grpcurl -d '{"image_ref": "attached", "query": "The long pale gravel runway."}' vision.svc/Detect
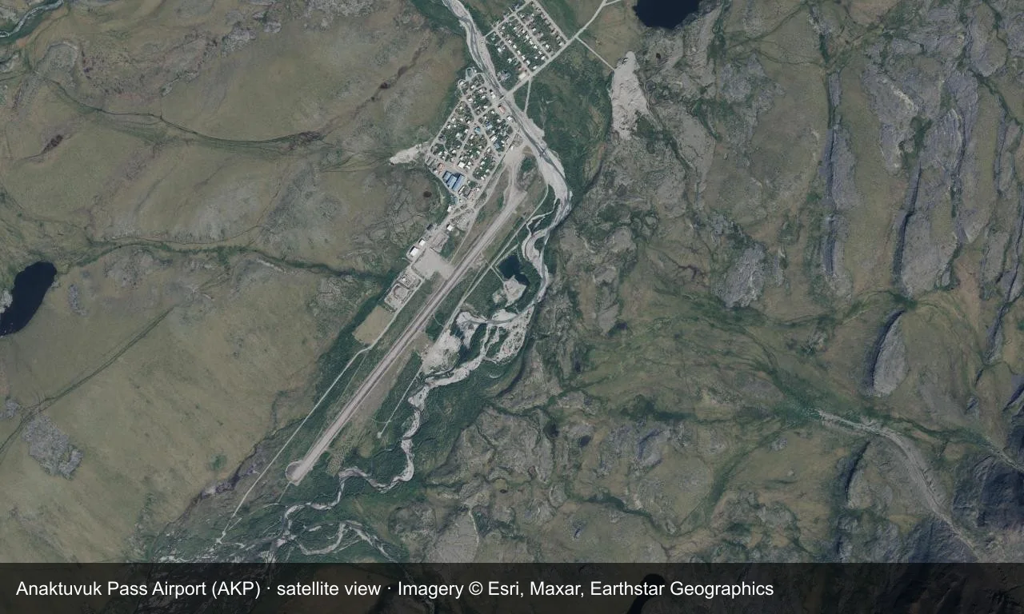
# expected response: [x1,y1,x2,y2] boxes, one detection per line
[296,187,525,477]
